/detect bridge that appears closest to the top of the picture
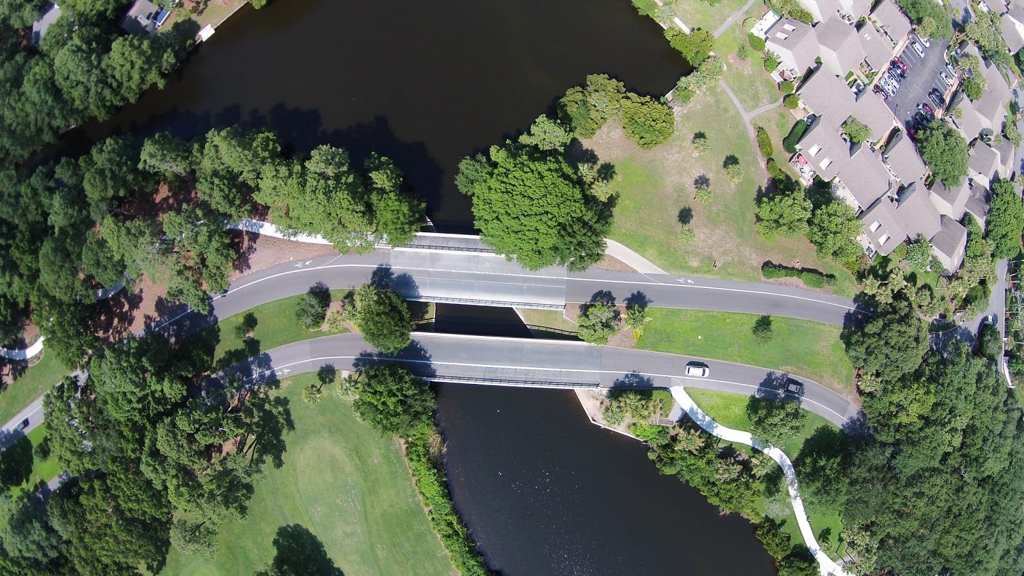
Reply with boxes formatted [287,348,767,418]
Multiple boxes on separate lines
[380,234,605,310]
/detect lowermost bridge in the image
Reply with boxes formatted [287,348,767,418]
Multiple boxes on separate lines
[409,332,602,390]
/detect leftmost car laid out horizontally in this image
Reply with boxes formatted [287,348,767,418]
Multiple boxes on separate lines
[685,364,710,376]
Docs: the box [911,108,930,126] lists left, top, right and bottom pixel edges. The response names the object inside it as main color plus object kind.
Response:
black car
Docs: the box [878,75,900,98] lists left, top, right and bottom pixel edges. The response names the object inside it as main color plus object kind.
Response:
white car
